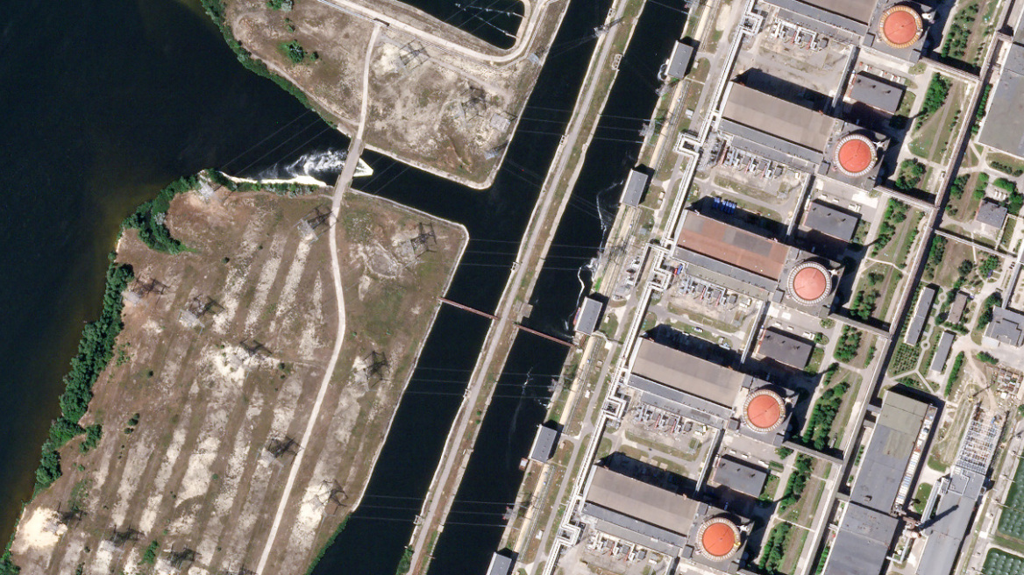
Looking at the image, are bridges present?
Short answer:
Yes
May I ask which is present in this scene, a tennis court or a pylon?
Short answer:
pylon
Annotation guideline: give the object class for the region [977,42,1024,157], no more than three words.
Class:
shed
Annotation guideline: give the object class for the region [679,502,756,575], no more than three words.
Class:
building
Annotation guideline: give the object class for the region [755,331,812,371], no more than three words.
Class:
building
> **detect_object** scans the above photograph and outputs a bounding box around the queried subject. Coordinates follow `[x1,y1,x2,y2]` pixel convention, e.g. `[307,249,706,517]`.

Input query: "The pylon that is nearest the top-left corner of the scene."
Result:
[201,181,222,206]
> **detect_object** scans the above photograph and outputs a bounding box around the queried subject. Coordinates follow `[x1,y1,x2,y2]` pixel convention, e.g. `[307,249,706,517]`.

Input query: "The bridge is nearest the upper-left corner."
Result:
[332,138,364,199]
